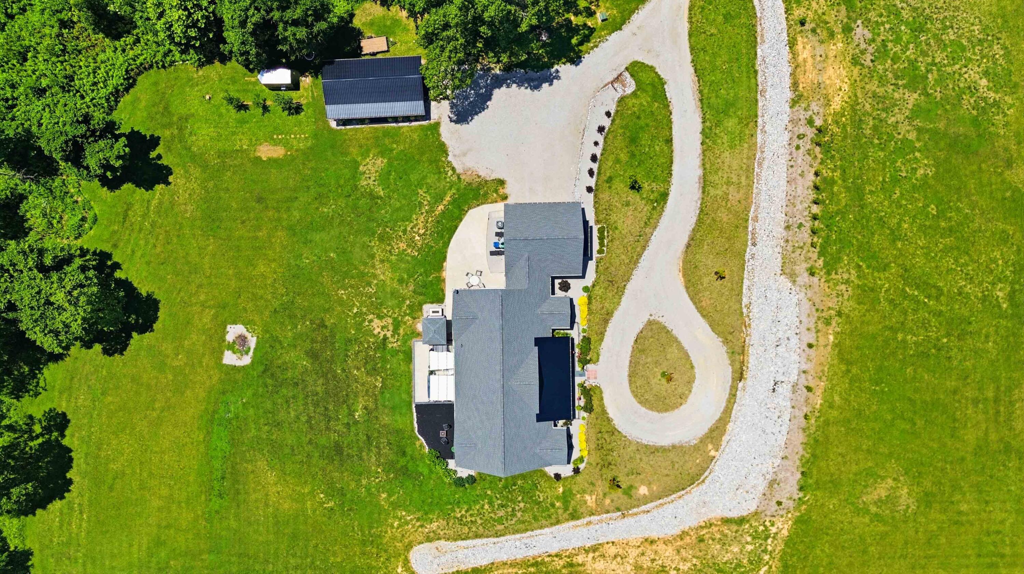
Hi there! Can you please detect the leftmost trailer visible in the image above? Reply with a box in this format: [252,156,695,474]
[255,69,294,89]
